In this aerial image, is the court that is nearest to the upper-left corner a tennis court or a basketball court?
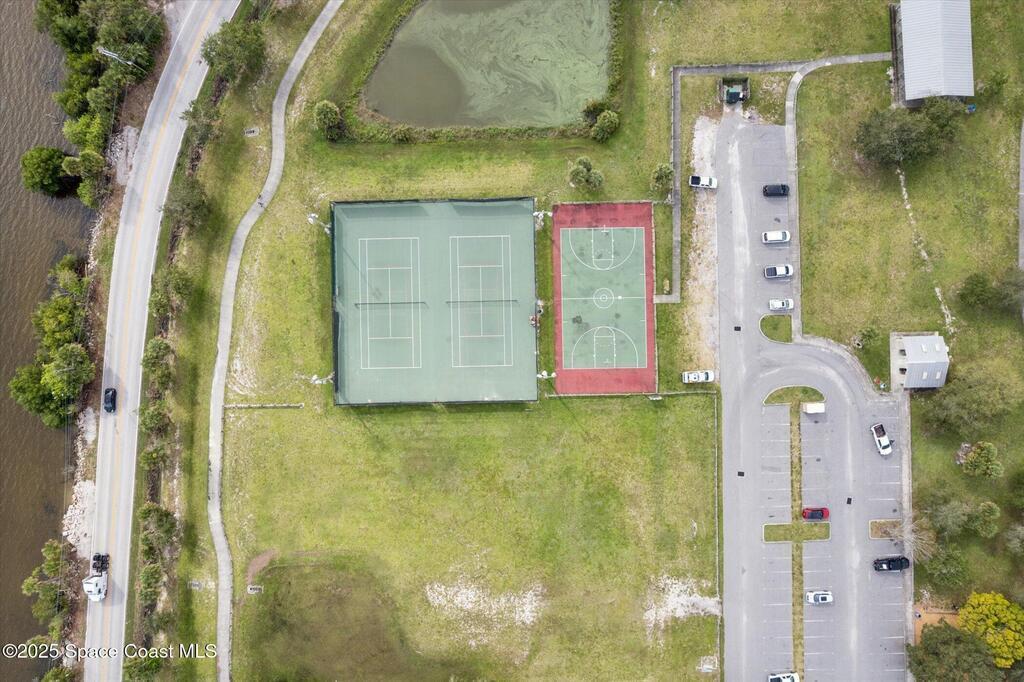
tennis court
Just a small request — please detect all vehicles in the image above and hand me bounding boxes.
[689,175,717,188]
[803,508,830,521]
[764,265,794,277]
[769,298,794,310]
[100,387,116,412]
[81,553,109,599]
[806,592,834,605]
[872,424,894,455]
[683,371,713,384]
[876,558,908,572]
[769,673,799,682]
[762,230,790,243]
[763,183,790,196]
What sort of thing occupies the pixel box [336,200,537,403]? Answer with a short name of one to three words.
tennis court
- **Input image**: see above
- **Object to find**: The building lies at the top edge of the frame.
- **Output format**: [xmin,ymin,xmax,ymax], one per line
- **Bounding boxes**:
[887,0,974,103]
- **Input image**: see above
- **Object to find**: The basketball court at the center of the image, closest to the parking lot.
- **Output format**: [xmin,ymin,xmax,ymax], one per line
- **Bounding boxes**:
[553,202,657,394]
